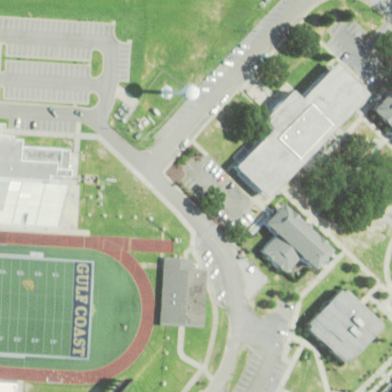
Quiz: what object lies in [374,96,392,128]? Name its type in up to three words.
house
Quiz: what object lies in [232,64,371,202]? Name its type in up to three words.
building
